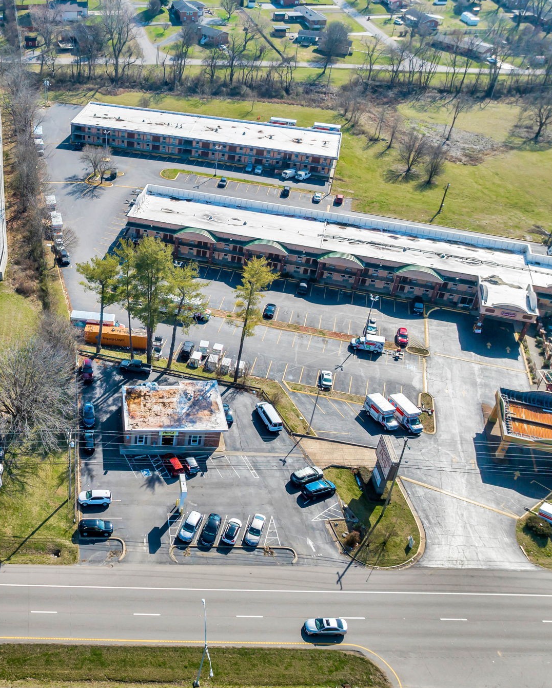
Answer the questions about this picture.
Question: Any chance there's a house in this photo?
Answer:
Yes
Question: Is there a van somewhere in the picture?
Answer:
Yes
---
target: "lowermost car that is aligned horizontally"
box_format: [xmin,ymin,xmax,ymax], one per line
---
[302,618,348,639]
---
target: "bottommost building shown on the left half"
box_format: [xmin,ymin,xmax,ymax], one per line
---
[121,378,229,445]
